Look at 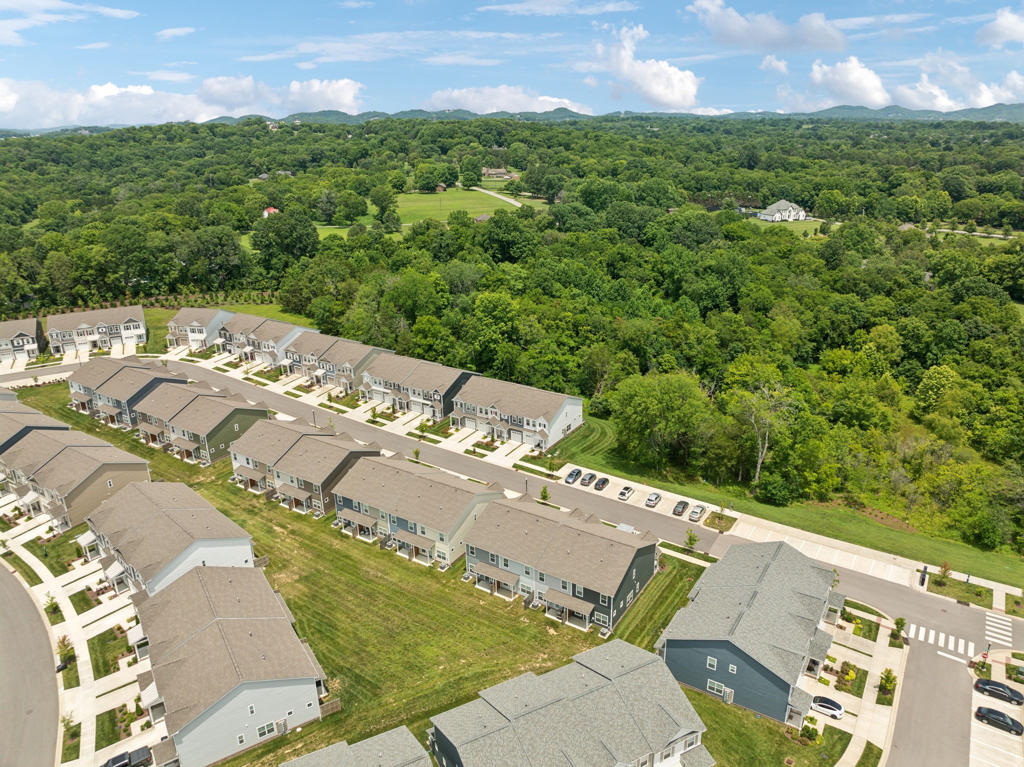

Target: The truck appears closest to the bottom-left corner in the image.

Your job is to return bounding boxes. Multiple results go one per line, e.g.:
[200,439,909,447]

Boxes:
[92,741,154,767]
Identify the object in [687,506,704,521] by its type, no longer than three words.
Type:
car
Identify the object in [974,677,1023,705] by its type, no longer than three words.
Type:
car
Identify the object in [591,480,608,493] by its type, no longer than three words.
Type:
vehicle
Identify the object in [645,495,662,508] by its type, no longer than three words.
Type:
vehicle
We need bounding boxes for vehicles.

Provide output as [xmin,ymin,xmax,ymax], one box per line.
[672,502,690,517]
[566,472,585,486]
[92,741,154,767]
[809,695,852,722]
[974,677,1023,705]
[973,705,1024,735]
[591,480,608,493]
[687,506,704,521]
[617,487,635,501]
[645,495,662,508]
